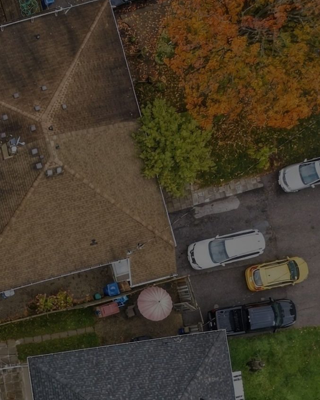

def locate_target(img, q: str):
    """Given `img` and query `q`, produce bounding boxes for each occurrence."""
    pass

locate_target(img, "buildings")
[0,0,177,294]
[17,327,246,400]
